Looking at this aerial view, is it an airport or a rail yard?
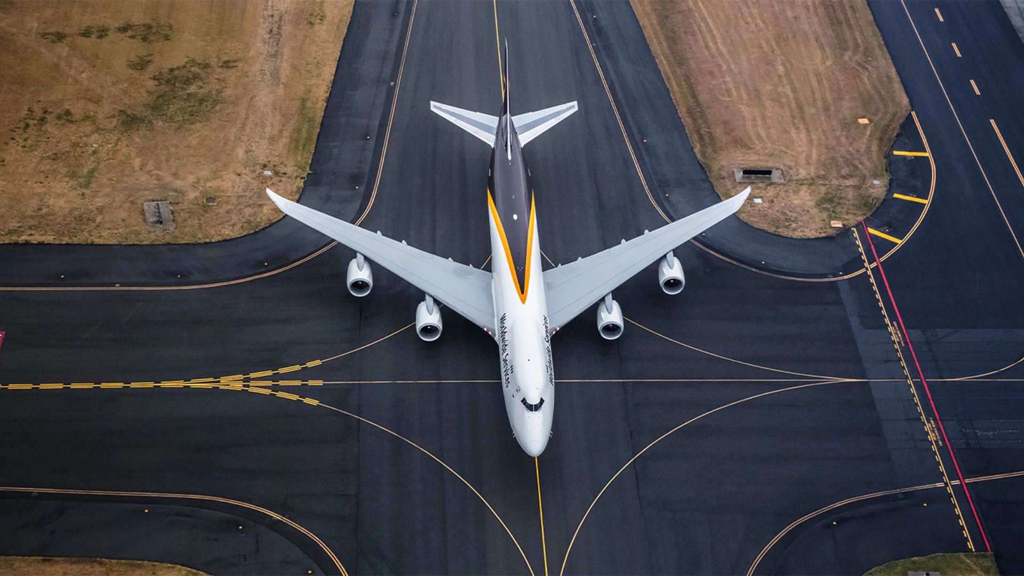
airport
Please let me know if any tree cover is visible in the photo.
No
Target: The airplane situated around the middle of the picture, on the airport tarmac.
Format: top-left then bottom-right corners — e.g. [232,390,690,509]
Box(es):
[266,38,752,461]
